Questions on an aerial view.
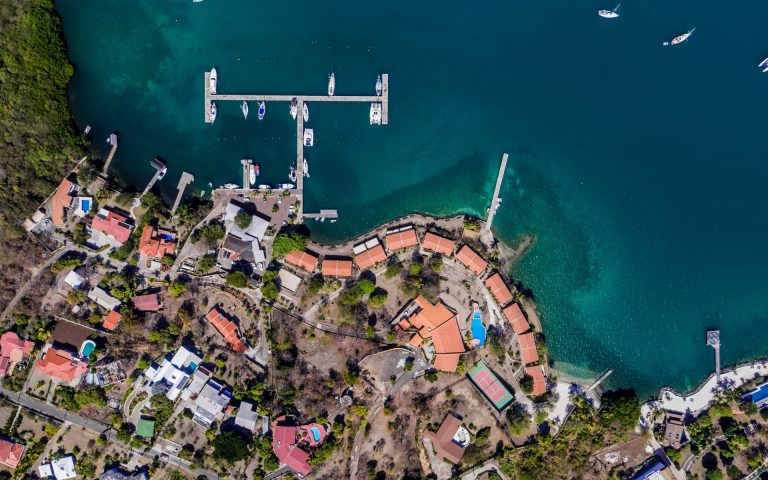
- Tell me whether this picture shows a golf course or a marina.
marina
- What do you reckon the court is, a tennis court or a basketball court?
tennis court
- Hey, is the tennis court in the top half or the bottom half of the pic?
bottom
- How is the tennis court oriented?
diagonally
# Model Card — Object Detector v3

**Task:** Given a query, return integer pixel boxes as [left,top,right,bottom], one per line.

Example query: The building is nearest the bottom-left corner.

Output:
[0,435,28,468]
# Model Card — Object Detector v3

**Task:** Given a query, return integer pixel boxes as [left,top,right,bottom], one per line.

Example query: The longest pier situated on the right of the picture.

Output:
[486,153,508,230]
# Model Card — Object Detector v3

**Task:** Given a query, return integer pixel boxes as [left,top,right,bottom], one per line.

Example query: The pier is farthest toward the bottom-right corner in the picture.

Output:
[705,331,720,374]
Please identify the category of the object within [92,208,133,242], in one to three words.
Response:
house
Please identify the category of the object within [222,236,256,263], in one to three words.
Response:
building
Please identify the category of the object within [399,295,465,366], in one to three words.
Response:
building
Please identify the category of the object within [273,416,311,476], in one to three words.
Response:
house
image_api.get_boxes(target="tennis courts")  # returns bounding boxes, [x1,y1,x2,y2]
[466,359,517,412]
